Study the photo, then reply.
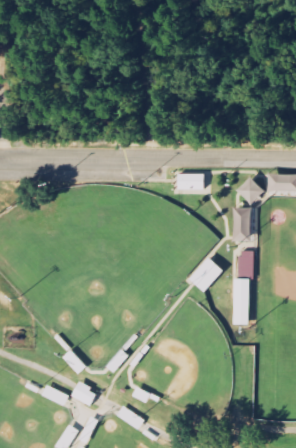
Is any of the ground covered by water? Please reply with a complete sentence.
No, no water is visible.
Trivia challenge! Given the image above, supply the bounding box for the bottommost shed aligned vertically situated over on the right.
[233,278,250,326]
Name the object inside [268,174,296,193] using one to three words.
building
